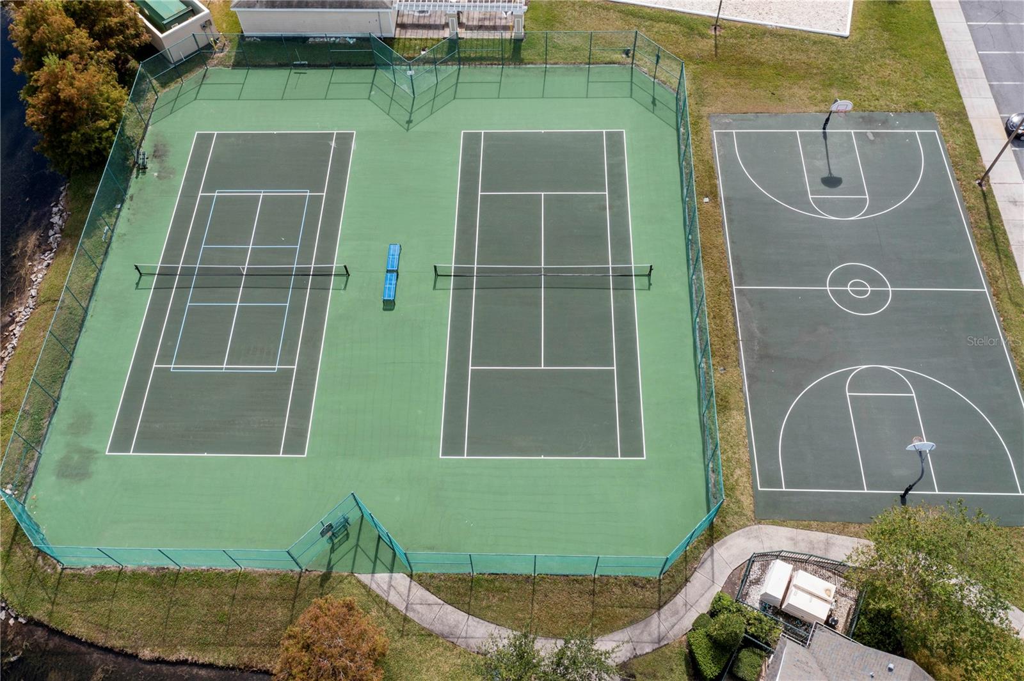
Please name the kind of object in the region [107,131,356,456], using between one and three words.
tennis court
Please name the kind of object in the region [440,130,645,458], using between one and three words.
tennis court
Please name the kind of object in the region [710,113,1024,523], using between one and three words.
basketball court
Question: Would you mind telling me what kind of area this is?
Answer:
sports ground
